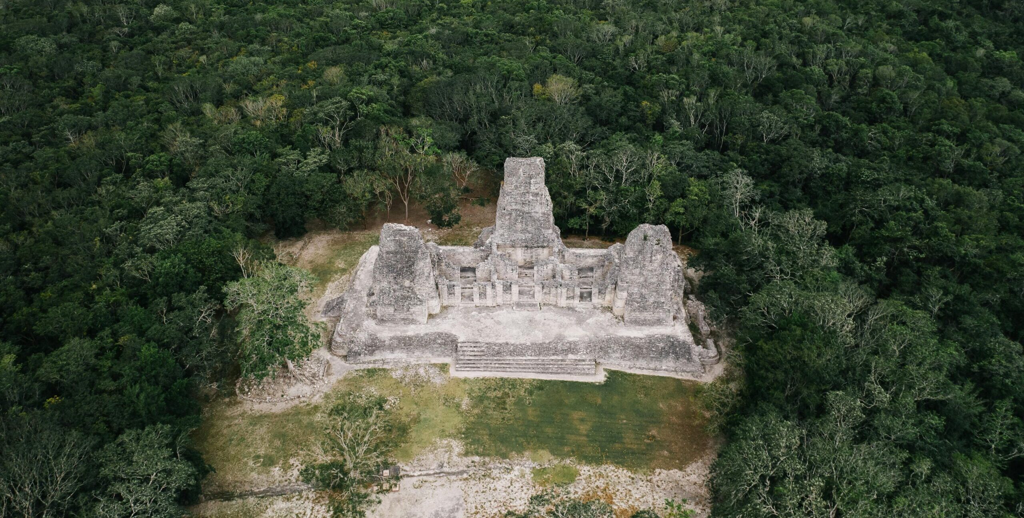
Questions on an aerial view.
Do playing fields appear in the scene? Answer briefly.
No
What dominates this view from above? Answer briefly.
trees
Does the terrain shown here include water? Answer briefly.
No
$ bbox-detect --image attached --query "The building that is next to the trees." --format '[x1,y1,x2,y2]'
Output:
[322,159,705,379]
